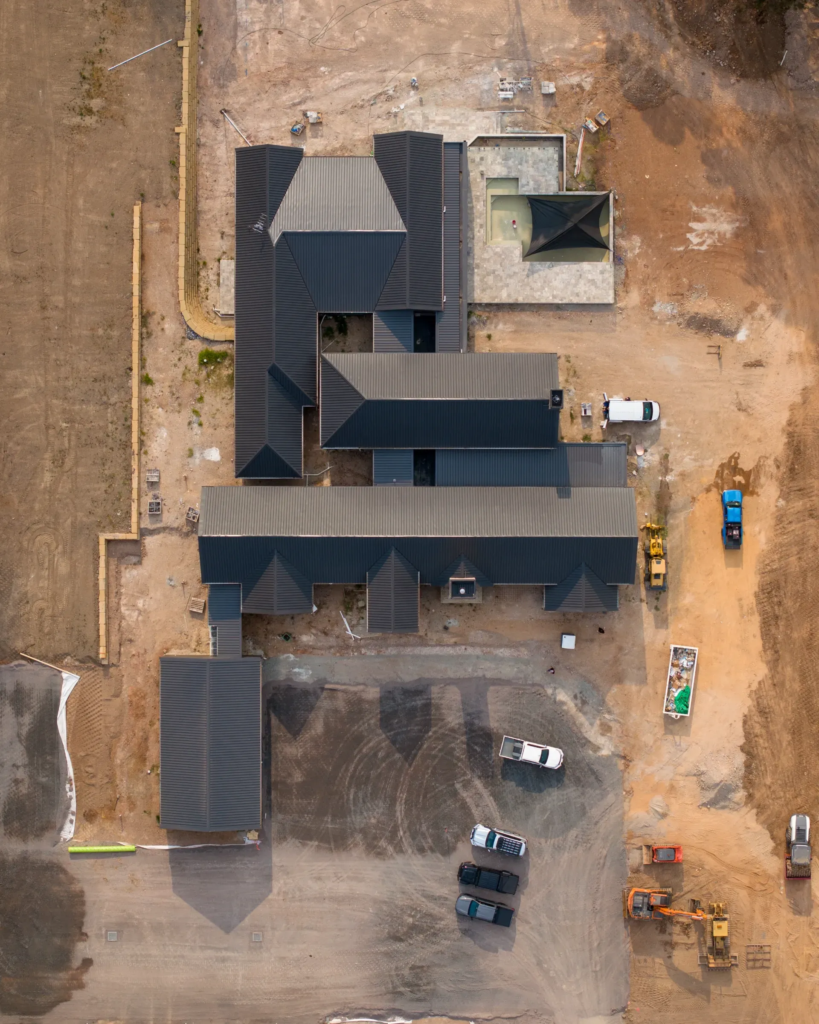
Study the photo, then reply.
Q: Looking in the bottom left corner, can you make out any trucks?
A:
No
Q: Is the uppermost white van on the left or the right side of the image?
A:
right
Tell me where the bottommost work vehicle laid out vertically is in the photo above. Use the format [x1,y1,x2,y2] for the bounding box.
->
[706,899,732,971]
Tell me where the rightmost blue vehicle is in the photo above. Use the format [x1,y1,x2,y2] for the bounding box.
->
[720,489,746,550]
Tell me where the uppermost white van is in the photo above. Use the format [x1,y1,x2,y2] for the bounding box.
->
[604,391,660,431]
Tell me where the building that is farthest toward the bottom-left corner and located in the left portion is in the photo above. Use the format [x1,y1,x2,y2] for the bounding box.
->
[159,657,262,832]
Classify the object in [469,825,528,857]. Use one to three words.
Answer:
car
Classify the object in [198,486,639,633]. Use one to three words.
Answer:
house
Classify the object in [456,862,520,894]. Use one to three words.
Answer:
truck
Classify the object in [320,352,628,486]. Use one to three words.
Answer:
house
